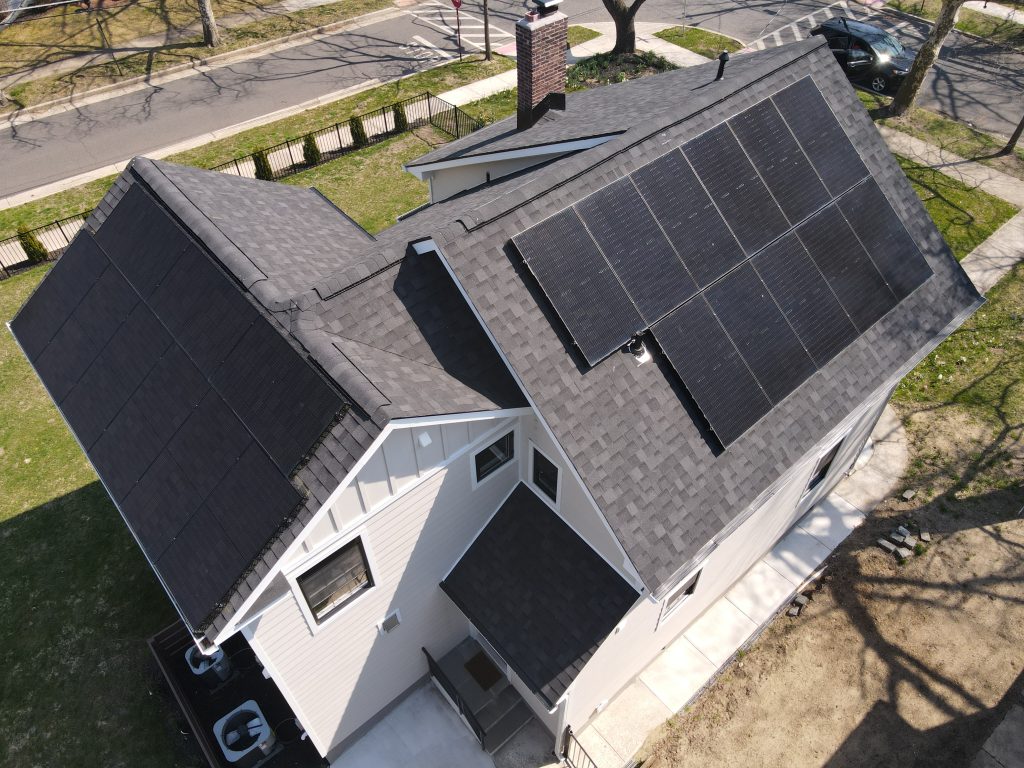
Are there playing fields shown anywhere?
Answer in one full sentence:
No, the photo shows no playing field.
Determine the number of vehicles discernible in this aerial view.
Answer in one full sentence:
My tally gives 1 vehicle in this photo.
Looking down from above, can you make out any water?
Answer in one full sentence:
No, there's no water in this view.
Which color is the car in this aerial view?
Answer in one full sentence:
From above, the car appears black.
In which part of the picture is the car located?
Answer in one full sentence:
The car sits in the top right section of the image.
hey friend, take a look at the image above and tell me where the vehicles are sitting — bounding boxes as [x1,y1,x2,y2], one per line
[816,16,920,96]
